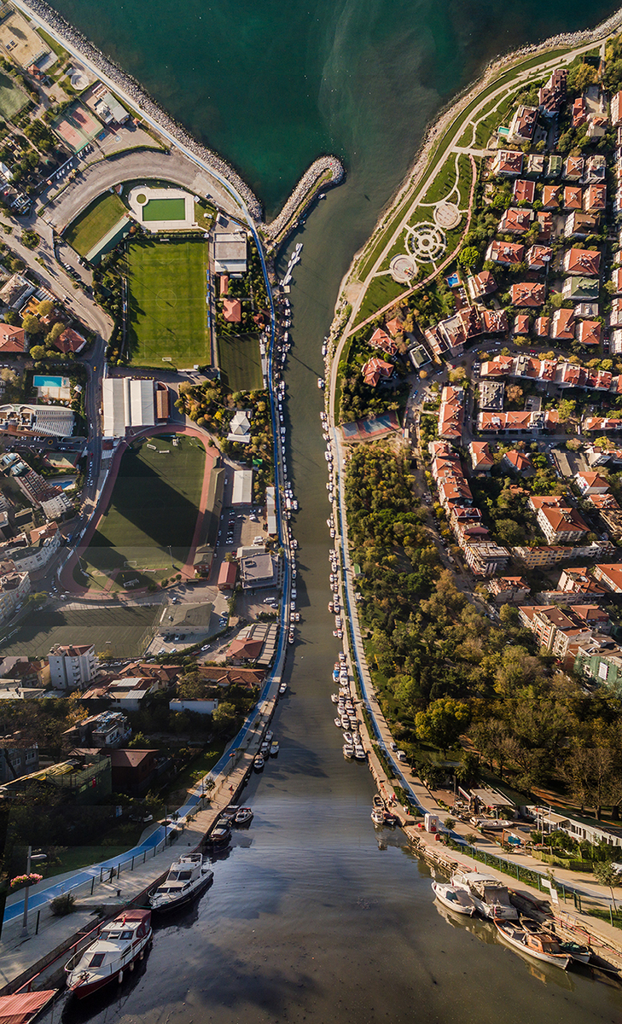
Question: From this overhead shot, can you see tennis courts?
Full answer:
Yes, the photo shows a tennis court.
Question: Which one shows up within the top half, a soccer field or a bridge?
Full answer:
The feature located within the top half is a soccer field.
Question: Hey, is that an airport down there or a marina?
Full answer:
This image shows a marina.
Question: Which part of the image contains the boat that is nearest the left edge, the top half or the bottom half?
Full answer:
The bottom half of the photo is where the boat that is nearest the left edge is.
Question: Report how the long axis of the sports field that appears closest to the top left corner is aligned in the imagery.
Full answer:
The sports field that appears closest to the top left corner runs at an angle in the image.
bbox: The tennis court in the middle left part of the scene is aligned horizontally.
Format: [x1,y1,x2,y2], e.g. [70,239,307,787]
[42,452,81,468]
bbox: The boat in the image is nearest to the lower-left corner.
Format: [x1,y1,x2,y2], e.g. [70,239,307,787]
[71,913,162,1009]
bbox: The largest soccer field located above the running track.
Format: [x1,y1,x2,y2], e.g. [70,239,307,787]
[126,240,211,370]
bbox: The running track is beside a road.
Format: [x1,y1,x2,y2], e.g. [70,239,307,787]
[60,425,220,595]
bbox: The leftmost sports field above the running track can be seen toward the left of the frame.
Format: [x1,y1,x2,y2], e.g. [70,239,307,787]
[62,192,127,257]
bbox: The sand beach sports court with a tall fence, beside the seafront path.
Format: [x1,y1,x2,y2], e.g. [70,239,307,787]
[0,8,49,67]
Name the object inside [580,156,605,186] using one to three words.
building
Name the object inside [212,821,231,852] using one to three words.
boat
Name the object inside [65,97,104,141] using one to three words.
tennis court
